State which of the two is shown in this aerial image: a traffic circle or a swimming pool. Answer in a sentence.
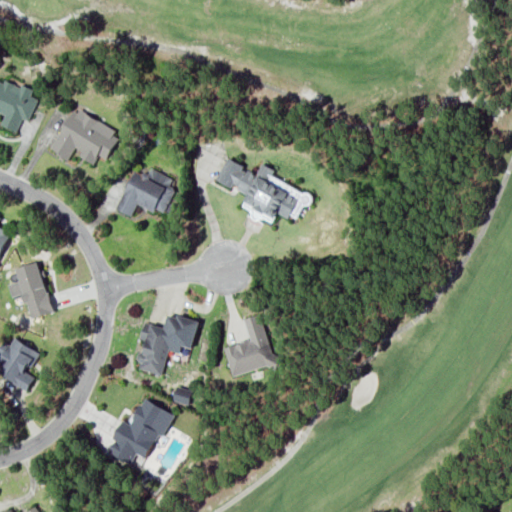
I can see a swimming pool in this picture.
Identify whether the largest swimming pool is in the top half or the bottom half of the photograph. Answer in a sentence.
You can find the largest swimming pool in the bottom half.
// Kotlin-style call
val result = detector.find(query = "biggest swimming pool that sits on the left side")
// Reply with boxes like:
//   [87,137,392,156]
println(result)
[144,428,192,483]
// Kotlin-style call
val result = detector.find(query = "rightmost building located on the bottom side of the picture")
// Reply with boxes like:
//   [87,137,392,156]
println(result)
[226,316,278,375]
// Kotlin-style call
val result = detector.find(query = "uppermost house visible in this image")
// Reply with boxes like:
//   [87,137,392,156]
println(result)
[0,80,38,132]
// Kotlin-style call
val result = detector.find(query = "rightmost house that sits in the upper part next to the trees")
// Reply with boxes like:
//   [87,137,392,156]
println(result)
[216,158,314,224]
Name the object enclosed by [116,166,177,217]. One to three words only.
house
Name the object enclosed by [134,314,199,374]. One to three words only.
house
